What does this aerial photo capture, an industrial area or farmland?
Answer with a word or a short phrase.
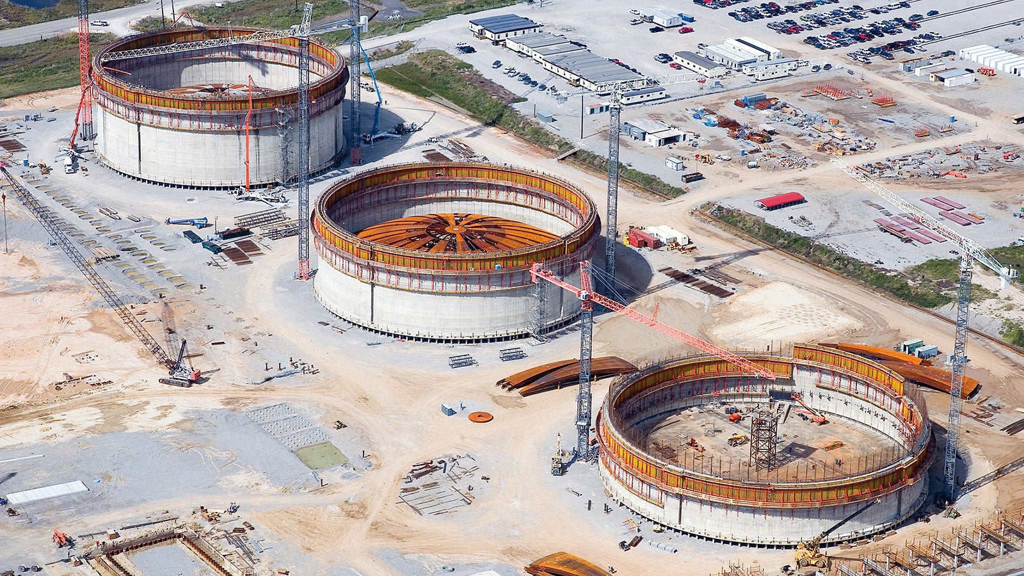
industrial area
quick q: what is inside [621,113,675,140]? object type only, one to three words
building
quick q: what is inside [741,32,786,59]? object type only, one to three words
shed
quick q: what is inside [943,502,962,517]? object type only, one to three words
work vehicle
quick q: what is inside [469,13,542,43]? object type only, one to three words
trailer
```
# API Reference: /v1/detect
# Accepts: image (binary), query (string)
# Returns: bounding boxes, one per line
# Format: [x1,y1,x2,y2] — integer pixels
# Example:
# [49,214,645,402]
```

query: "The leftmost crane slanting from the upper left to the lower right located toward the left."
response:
[0,151,205,383]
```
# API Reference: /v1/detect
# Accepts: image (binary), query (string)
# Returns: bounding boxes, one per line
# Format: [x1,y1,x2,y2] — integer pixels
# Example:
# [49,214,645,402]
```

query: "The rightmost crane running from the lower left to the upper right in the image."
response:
[793,500,880,570]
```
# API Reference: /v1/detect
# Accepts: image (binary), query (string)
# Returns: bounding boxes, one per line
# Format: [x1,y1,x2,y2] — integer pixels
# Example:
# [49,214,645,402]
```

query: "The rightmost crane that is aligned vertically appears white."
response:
[829,159,1020,505]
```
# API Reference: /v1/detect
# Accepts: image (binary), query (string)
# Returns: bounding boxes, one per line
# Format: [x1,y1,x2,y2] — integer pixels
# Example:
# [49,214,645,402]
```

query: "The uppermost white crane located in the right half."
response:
[554,57,826,296]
